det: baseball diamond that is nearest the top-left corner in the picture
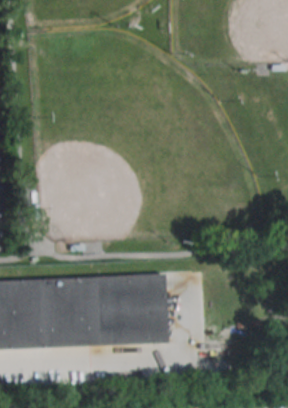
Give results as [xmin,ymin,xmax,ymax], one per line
[34,0,144,26]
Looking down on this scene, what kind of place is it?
sports ground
